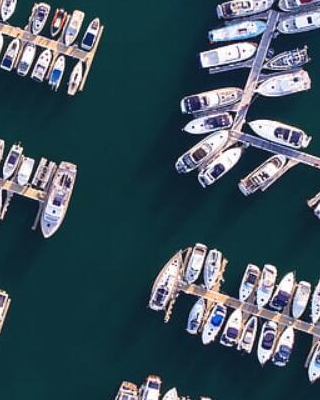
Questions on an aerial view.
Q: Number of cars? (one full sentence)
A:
There are no cars in this view.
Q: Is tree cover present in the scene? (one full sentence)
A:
No, there is no tree cover in the image.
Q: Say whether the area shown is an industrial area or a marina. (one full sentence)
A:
The area seen from above is a marina.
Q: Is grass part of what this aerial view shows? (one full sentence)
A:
No, the picture contains no grass.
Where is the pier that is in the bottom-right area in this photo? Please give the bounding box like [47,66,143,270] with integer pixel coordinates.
[162,250,320,369]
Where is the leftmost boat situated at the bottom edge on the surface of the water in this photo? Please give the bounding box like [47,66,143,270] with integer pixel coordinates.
[115,378,138,400]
